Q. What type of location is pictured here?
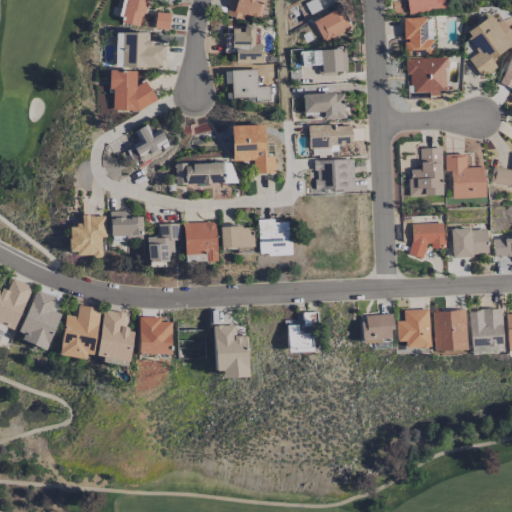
residential area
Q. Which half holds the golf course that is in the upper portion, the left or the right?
left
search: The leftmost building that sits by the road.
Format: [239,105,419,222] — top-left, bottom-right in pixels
[0,280,36,338]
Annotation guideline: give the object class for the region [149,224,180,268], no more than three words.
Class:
house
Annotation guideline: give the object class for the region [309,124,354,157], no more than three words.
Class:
house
